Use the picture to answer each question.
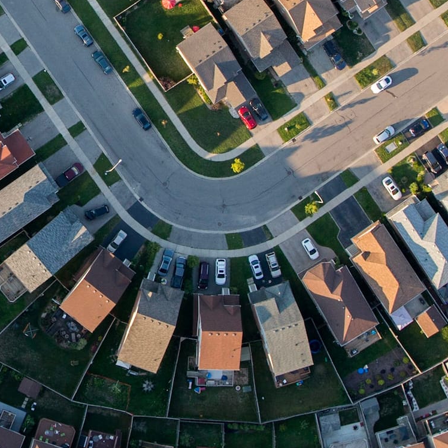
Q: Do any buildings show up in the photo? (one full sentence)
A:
Yes, the image includes a building.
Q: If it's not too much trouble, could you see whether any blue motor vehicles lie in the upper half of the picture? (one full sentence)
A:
Yes, looking in the upper half of the picture, one can make out a blue motor vehicle.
